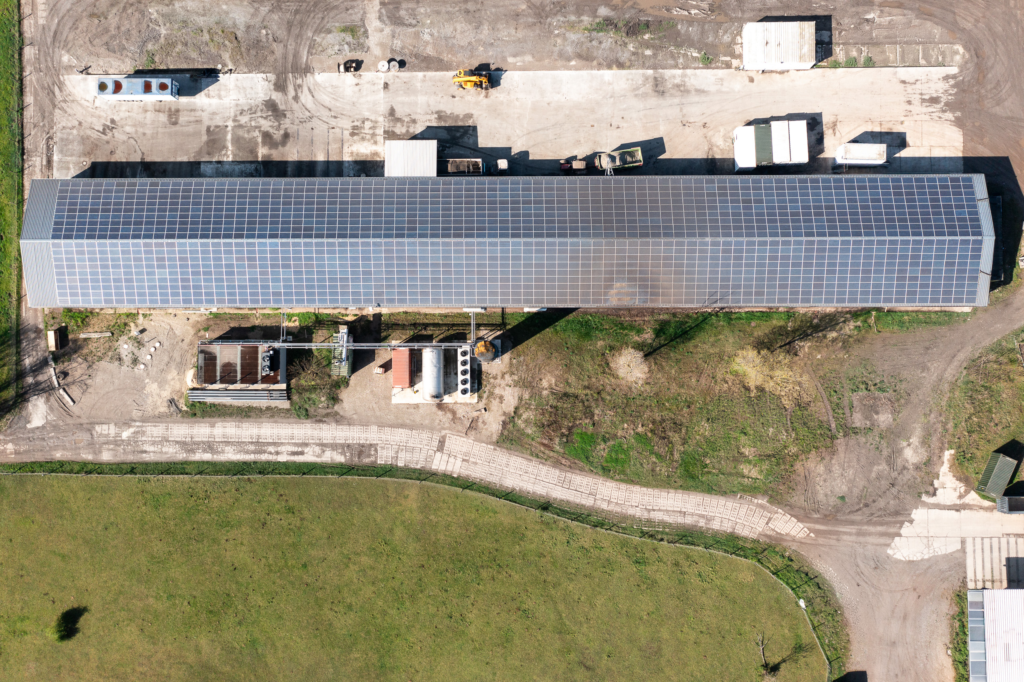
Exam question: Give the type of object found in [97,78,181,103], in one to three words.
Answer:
trailer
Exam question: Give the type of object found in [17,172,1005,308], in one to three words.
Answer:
barn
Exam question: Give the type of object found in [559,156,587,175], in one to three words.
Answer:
work vehicle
